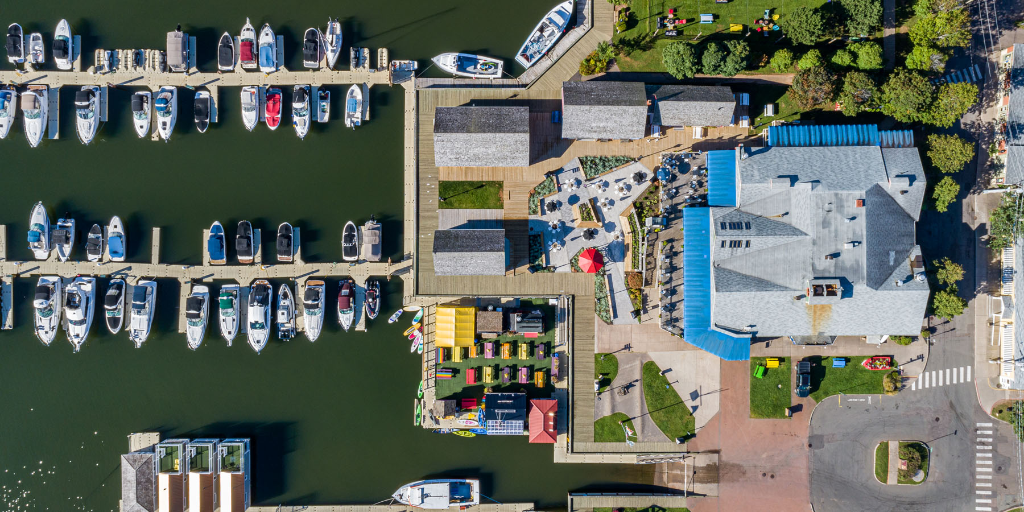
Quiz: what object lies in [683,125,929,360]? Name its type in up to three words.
building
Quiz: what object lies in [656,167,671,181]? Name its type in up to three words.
umbrella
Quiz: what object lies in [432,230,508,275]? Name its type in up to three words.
shed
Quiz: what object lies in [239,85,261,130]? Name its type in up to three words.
boat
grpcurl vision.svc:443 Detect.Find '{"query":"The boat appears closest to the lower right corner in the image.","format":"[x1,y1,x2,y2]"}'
[863,356,892,370]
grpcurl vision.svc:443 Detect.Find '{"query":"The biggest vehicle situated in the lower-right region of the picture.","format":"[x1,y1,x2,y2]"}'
[794,360,812,398]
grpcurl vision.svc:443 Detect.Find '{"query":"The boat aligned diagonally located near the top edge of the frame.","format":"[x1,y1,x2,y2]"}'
[513,1,572,72]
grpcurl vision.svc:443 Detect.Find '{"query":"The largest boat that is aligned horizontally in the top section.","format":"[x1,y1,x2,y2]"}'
[422,55,504,81]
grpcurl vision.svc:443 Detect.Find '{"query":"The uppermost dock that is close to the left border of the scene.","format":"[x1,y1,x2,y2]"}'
[0,35,391,141]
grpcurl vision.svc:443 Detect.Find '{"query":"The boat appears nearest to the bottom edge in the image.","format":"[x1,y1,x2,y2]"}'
[373,480,502,510]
